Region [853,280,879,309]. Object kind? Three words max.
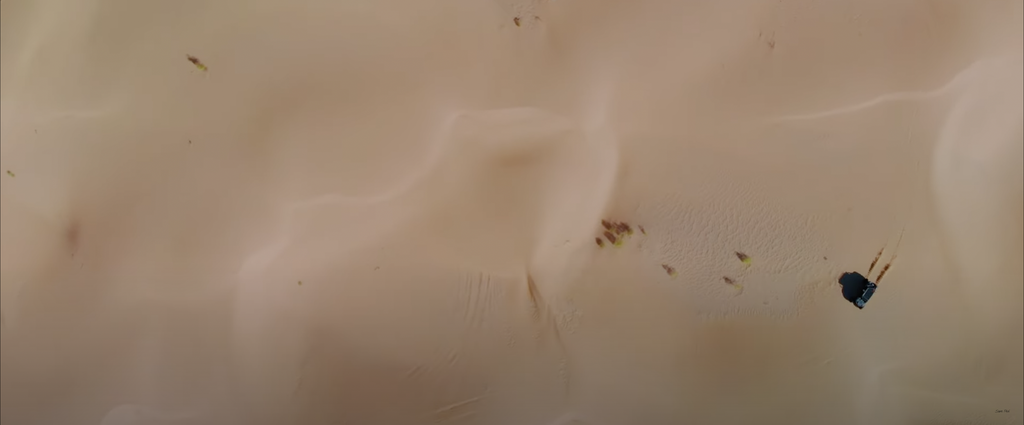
car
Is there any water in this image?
No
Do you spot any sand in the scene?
Yes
